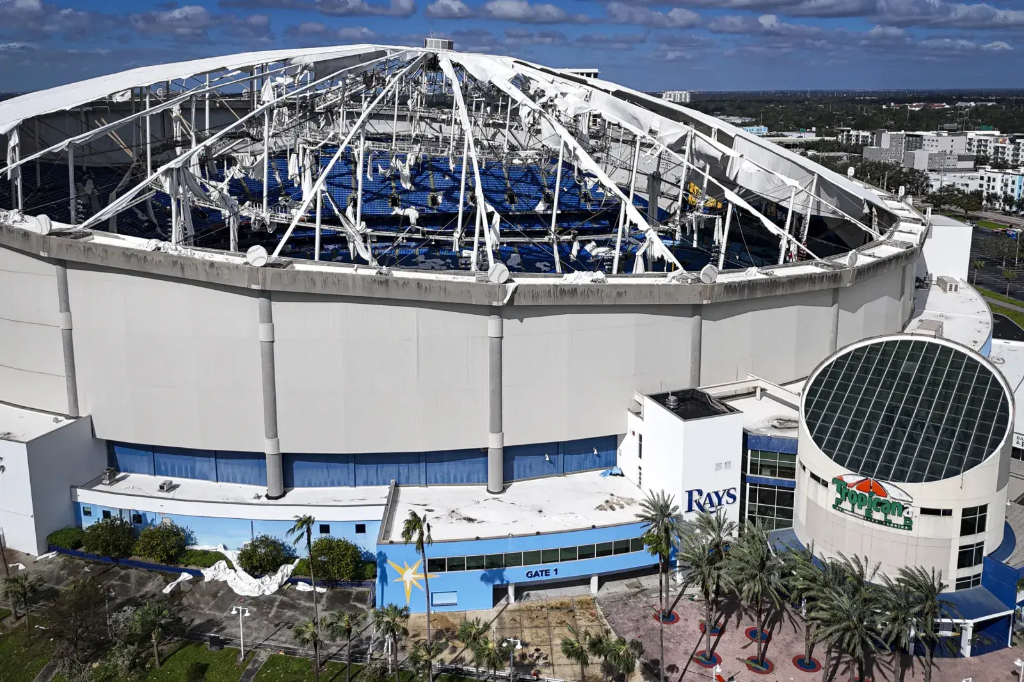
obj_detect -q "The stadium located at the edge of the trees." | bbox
[0,27,929,501]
